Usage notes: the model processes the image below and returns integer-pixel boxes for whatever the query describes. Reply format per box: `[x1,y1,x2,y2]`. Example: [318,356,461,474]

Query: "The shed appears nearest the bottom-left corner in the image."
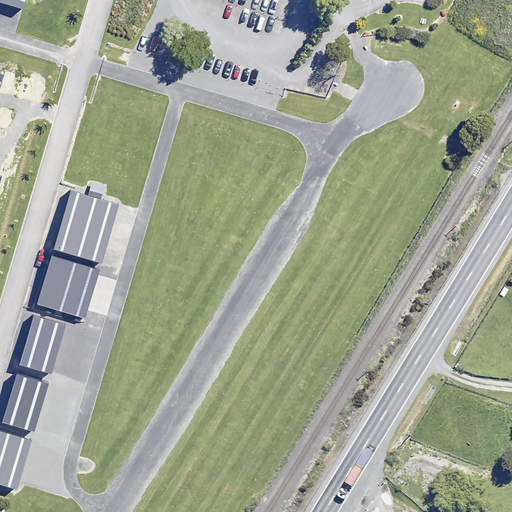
[0,429,32,490]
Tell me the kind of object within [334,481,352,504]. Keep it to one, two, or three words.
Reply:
vehicle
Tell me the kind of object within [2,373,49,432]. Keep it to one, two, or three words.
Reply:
shed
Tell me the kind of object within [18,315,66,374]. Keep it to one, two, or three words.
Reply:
shed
